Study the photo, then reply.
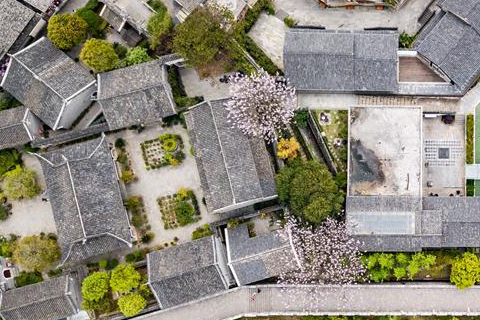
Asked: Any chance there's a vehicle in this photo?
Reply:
No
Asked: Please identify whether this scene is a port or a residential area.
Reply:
residential area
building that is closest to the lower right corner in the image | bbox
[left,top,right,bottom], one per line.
[425,197,480,247]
